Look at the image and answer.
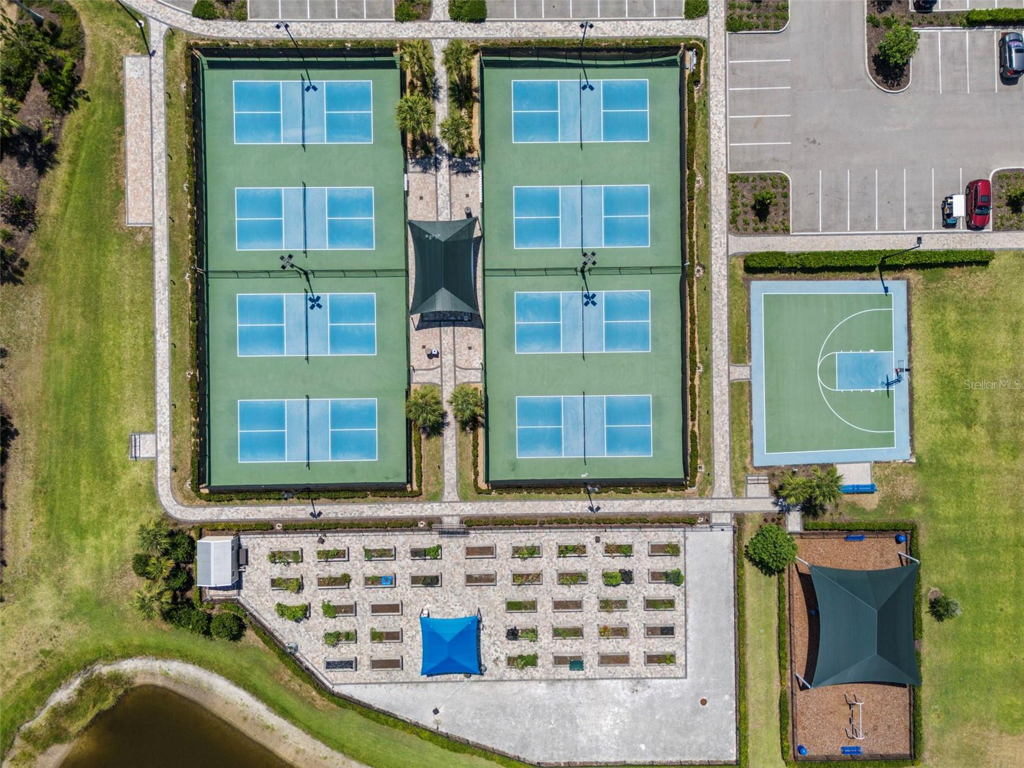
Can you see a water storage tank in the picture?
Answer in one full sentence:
No, the photo shows no water storage tank.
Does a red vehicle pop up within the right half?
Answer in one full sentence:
Yes, I can see a red vehicle within the right half.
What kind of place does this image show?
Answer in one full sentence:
This image shows a sports ground.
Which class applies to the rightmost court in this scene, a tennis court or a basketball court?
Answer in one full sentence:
From above, the rightmost court can be identified as a basketball court.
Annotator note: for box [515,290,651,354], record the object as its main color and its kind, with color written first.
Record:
blue sports court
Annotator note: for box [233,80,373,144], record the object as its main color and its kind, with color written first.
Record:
blue sports court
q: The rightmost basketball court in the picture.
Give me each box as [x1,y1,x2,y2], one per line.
[762,293,896,454]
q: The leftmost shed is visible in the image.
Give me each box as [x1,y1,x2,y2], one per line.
[197,536,240,589]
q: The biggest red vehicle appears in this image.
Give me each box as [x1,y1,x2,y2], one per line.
[967,179,996,229]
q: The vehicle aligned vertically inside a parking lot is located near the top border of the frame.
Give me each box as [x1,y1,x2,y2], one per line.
[1000,28,1024,79]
